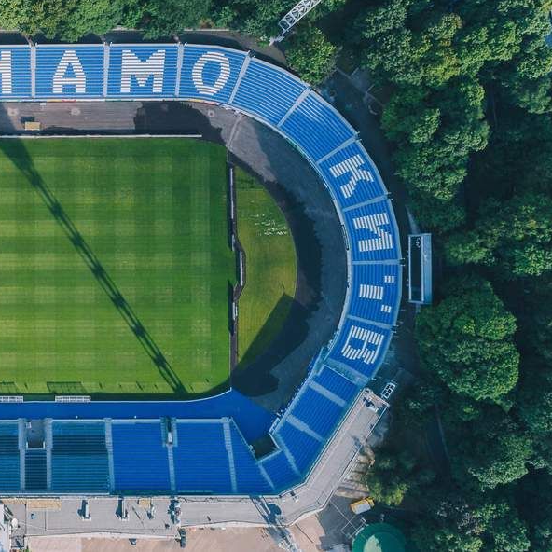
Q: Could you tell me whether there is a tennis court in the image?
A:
No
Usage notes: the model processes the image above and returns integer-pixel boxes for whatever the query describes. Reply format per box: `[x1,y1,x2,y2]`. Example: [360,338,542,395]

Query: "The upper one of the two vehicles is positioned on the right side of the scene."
[381,381,397,400]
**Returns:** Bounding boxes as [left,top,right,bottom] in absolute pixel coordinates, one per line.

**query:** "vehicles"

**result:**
[351,500,375,517]
[381,381,397,400]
